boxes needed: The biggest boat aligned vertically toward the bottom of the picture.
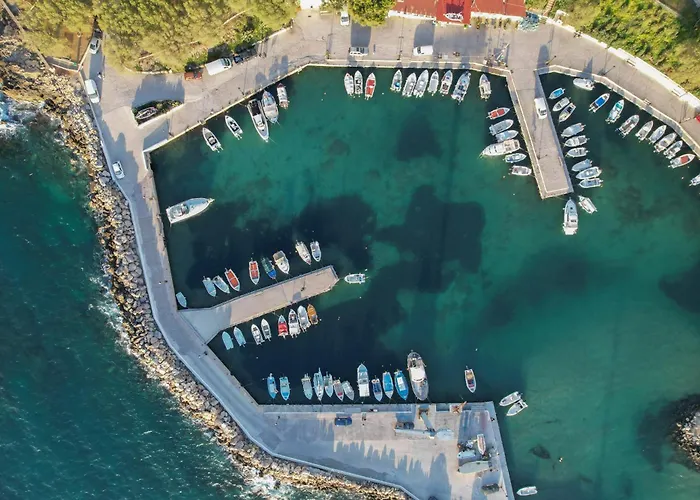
[405,351,430,404]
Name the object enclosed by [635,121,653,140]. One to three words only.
boat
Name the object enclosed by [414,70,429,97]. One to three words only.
boat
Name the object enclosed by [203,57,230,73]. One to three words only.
vehicle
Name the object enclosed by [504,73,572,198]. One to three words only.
pier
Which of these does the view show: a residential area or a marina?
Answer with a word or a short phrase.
marina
